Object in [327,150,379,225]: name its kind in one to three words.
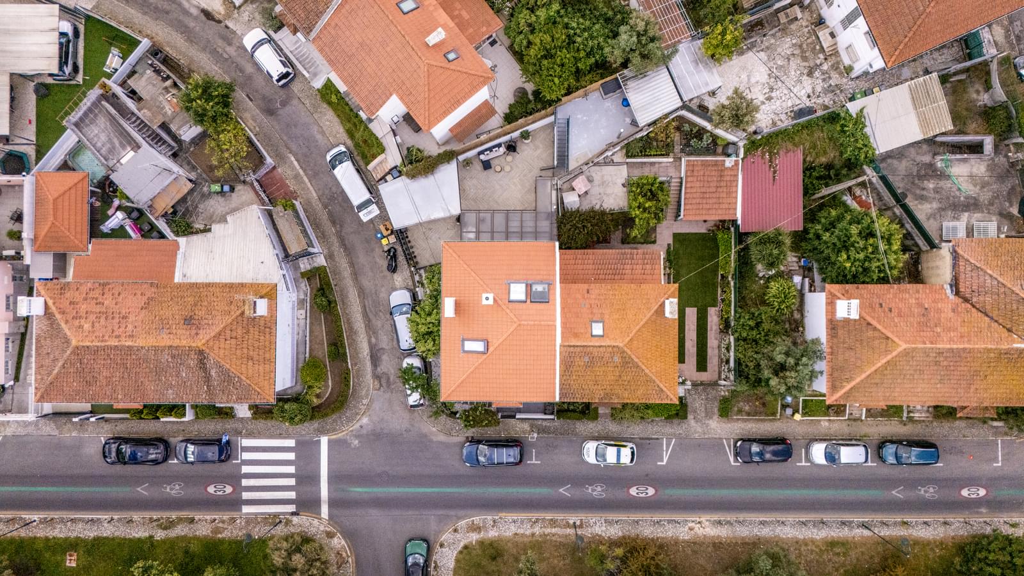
van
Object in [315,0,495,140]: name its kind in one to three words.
house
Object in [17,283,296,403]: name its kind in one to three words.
house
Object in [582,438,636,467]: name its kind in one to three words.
car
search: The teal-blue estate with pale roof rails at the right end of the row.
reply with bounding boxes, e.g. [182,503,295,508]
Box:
[876,437,940,468]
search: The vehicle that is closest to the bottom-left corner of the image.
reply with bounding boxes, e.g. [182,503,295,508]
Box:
[103,435,171,468]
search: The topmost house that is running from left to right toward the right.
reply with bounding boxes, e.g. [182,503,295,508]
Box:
[809,0,1024,90]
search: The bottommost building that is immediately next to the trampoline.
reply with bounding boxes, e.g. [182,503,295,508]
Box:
[32,171,93,252]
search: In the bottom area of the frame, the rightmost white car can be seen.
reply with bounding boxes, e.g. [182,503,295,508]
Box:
[807,437,871,468]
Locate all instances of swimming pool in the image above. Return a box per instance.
[67,141,115,189]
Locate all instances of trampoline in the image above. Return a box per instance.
[0,150,32,175]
